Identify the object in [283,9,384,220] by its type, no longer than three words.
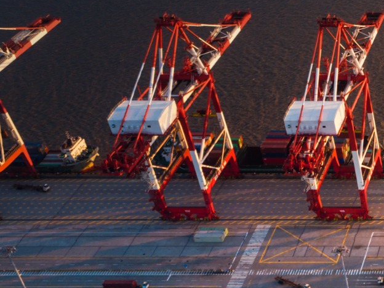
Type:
container crane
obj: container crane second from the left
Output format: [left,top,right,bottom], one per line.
[103,8,250,220]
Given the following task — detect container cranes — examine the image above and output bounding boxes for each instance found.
[283,9,384,220]
[0,10,61,179]
[103,8,250,220]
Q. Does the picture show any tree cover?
No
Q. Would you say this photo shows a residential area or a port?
port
